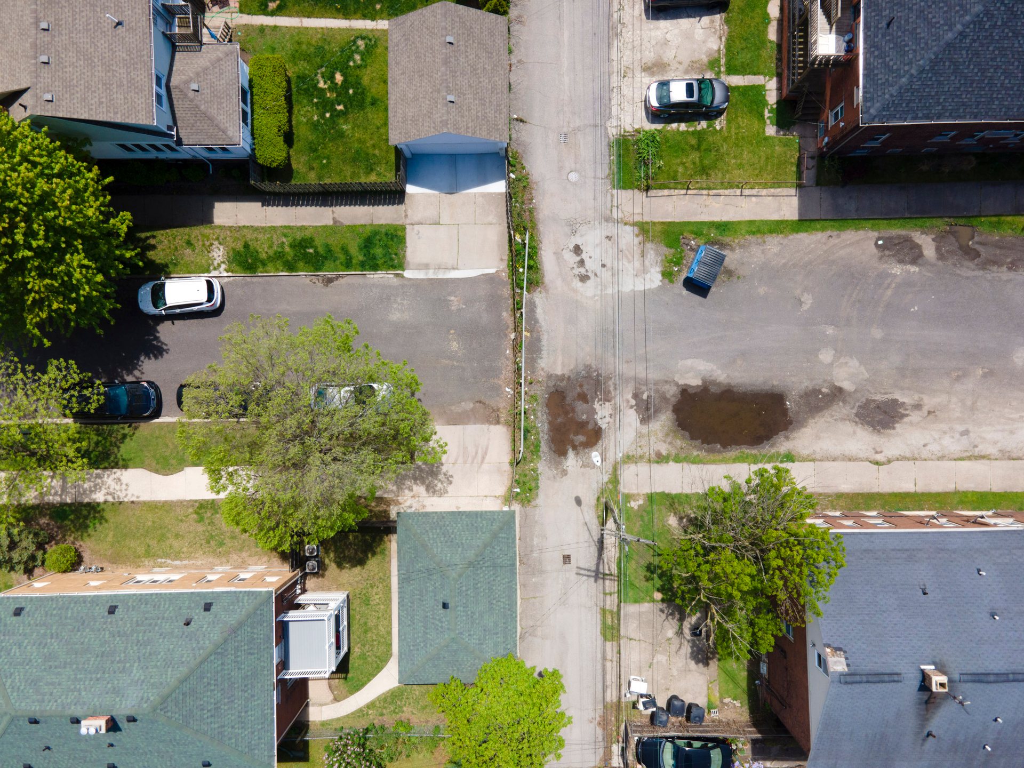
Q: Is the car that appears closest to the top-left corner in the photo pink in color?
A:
No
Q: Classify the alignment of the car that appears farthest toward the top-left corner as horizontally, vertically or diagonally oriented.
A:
horizontally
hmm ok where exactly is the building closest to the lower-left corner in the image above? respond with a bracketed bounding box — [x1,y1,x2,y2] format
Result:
[0,568,306,768]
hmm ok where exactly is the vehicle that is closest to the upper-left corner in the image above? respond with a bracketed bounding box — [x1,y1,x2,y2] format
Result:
[138,275,220,315]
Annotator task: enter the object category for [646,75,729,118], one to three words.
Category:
car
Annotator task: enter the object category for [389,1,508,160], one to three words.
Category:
building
